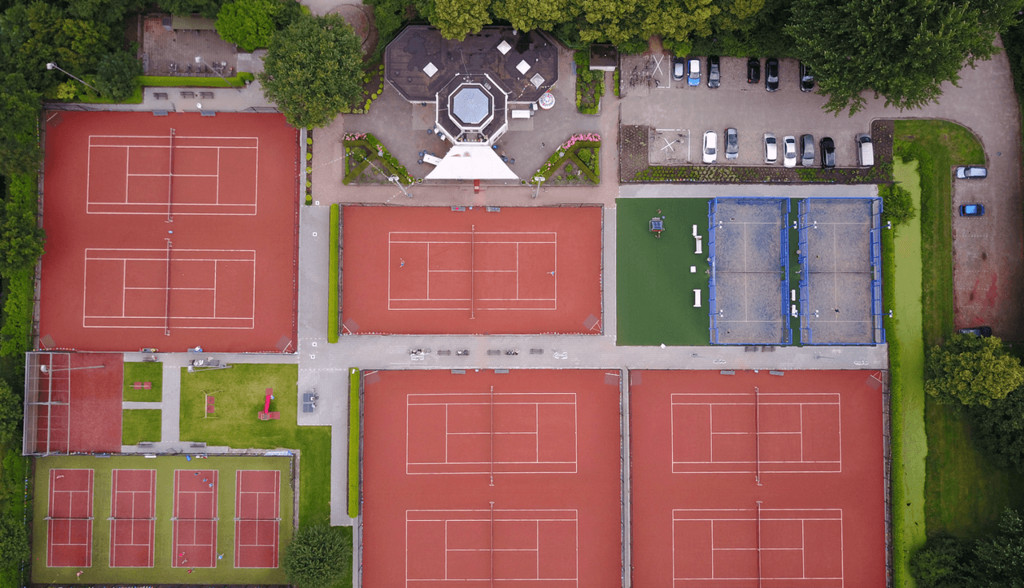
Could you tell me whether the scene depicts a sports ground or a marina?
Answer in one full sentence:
It's a sports ground.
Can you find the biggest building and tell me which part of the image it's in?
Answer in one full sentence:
Look in the top portion of the view to spot the biggest building.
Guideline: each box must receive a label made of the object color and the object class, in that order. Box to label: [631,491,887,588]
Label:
red tennis court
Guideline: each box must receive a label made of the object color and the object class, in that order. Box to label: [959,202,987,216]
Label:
blue car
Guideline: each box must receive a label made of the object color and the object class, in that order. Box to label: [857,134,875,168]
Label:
white vehicle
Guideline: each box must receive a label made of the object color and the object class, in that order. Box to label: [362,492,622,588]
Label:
red tennis court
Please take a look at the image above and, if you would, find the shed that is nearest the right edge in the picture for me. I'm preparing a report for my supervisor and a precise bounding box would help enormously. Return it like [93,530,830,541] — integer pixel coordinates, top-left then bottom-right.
[589,43,617,72]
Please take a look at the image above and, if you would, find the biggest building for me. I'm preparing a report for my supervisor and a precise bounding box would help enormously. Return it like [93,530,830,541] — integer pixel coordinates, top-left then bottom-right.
[386,25,558,183]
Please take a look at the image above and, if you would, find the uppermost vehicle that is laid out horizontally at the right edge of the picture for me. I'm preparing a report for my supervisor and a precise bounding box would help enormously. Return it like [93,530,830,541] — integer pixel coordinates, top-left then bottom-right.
[956,164,990,179]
